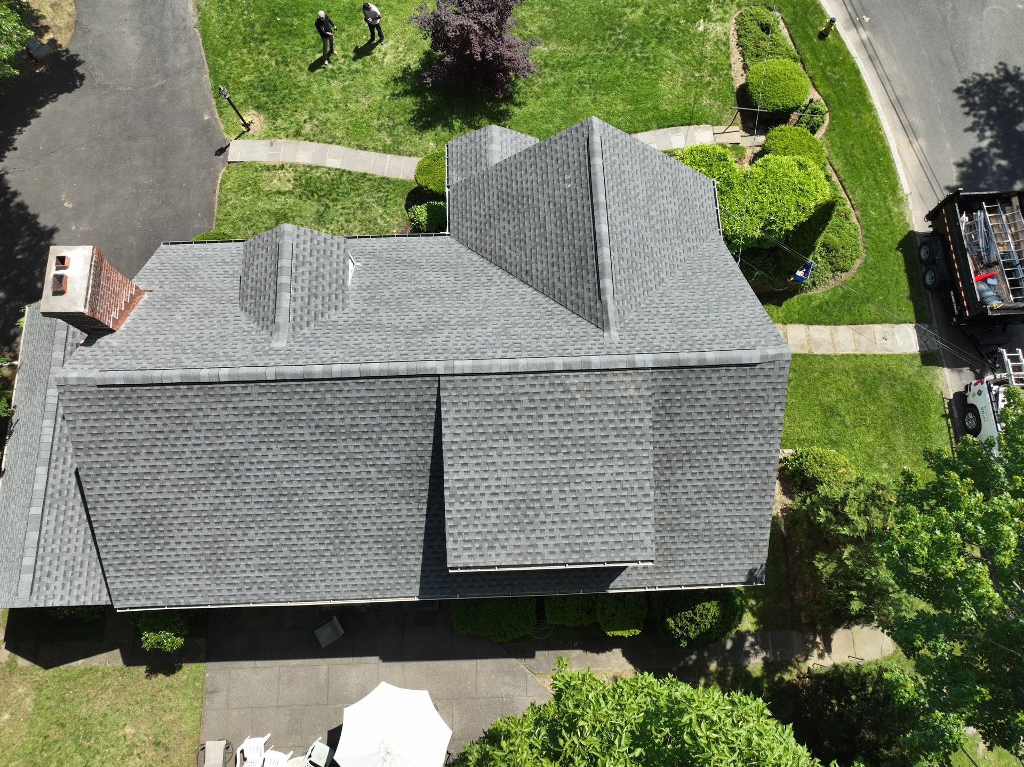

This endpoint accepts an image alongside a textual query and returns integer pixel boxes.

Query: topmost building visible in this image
[0,114,793,609]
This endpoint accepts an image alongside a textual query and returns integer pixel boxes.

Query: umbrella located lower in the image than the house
[329,677,455,767]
